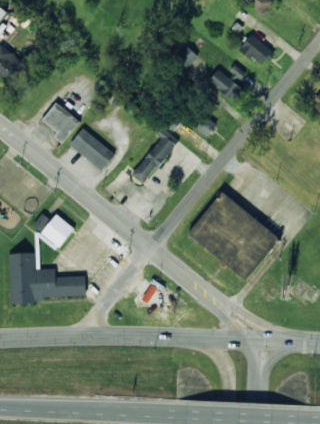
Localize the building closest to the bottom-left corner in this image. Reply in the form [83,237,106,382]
[10,253,88,306]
